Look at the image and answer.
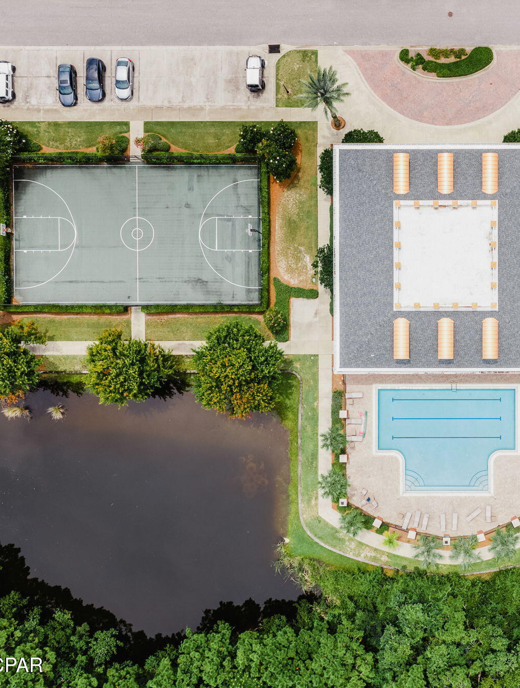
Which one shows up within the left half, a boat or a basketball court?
basketball court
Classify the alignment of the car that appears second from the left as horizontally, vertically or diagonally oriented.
vertically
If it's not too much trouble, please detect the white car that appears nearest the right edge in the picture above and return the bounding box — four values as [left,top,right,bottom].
[245,57,266,92]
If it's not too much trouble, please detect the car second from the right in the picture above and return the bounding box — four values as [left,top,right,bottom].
[113,58,136,103]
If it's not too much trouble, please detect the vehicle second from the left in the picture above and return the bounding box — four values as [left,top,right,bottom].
[57,64,80,109]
